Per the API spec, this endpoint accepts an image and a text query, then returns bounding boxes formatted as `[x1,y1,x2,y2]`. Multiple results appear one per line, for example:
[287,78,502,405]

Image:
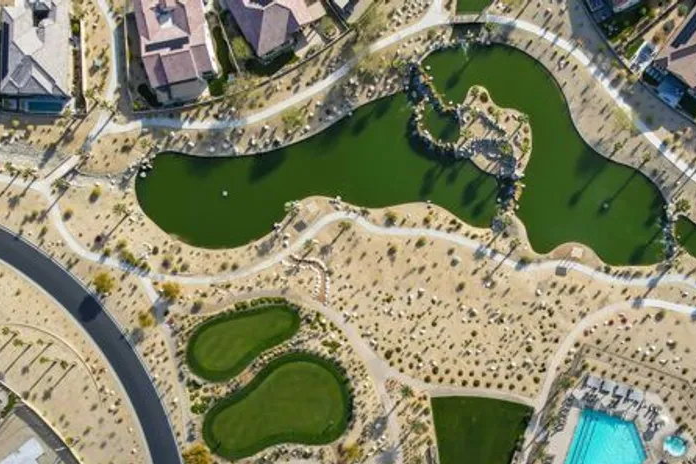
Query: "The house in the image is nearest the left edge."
[1,0,76,99]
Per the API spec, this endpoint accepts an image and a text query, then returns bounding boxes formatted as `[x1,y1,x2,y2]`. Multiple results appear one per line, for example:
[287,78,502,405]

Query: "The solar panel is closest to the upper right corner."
[671,13,696,47]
